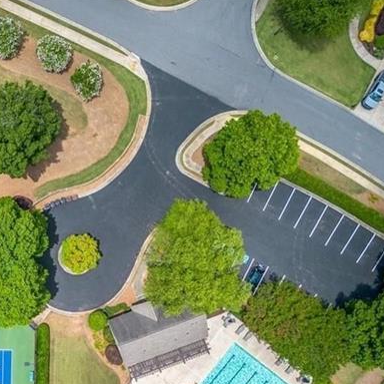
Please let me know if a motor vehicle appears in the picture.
Yes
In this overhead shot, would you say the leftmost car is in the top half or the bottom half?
bottom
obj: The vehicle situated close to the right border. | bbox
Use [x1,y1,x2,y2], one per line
[364,69,384,108]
